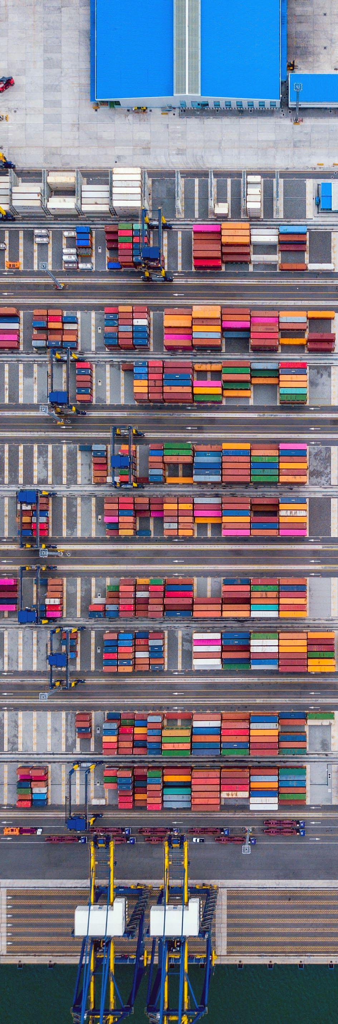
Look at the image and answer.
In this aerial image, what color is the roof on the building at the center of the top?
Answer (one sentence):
The roof over the building at the center of the top appears blue.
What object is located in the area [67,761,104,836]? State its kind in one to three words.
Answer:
container crane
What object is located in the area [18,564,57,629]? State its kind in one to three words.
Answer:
container crane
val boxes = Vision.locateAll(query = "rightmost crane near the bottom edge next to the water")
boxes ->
[143,827,225,1024]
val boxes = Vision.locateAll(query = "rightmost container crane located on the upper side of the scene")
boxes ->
[139,210,174,282]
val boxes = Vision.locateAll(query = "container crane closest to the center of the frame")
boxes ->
[110,425,146,490]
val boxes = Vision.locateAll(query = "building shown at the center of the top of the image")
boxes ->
[90,0,287,109]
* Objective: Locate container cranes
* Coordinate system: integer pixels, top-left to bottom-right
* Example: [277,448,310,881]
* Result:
[139,210,174,282]
[18,488,57,549]
[18,564,57,629]
[67,761,104,836]
[110,425,146,490]
[48,349,87,415]
[143,827,225,1024]
[48,626,86,688]
[68,827,158,1024]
